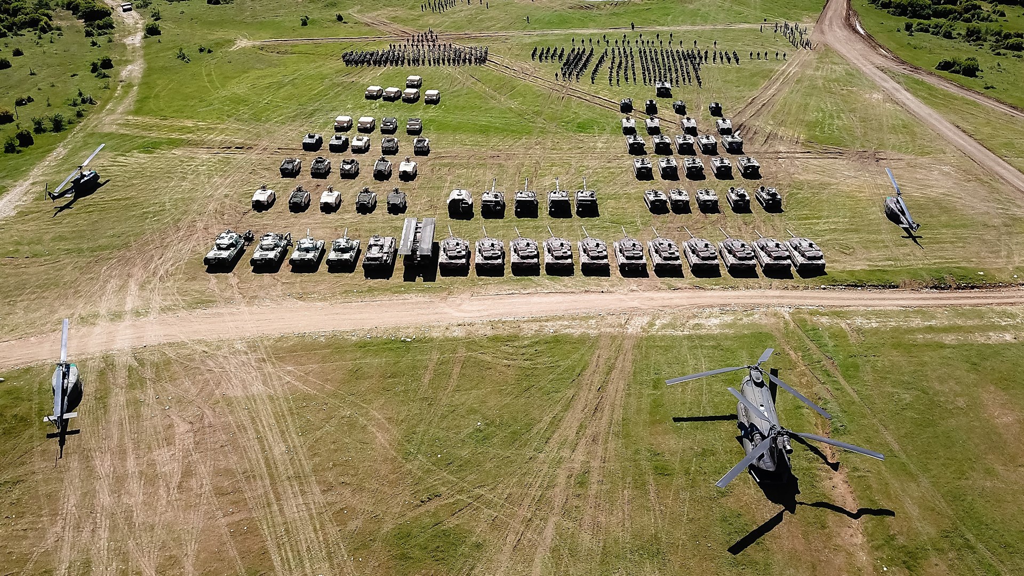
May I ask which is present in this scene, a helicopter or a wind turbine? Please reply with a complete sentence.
Looking from above, you can make out a helicopter.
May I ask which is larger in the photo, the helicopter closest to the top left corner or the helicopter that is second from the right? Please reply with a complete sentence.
The helicopter closest to the top left corner is smaller than the helicopter that is second from the right.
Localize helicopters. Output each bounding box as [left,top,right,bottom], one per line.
[44,148,107,206]
[878,170,920,235]
[668,342,883,492]
[42,321,87,435]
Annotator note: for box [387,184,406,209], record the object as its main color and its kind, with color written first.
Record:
gray car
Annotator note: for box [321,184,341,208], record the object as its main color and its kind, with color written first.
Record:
white car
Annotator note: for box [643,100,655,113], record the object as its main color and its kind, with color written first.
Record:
black vehicle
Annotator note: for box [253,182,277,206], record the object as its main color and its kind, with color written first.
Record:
white car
